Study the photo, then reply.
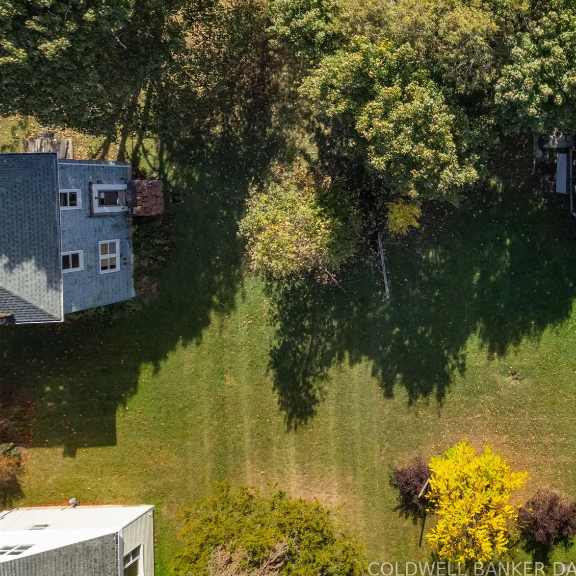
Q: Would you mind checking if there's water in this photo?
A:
No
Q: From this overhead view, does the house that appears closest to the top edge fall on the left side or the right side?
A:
left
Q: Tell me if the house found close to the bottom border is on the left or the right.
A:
left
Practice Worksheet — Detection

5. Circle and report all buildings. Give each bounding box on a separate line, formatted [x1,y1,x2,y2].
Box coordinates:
[0,148,137,325]
[0,505,156,576]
